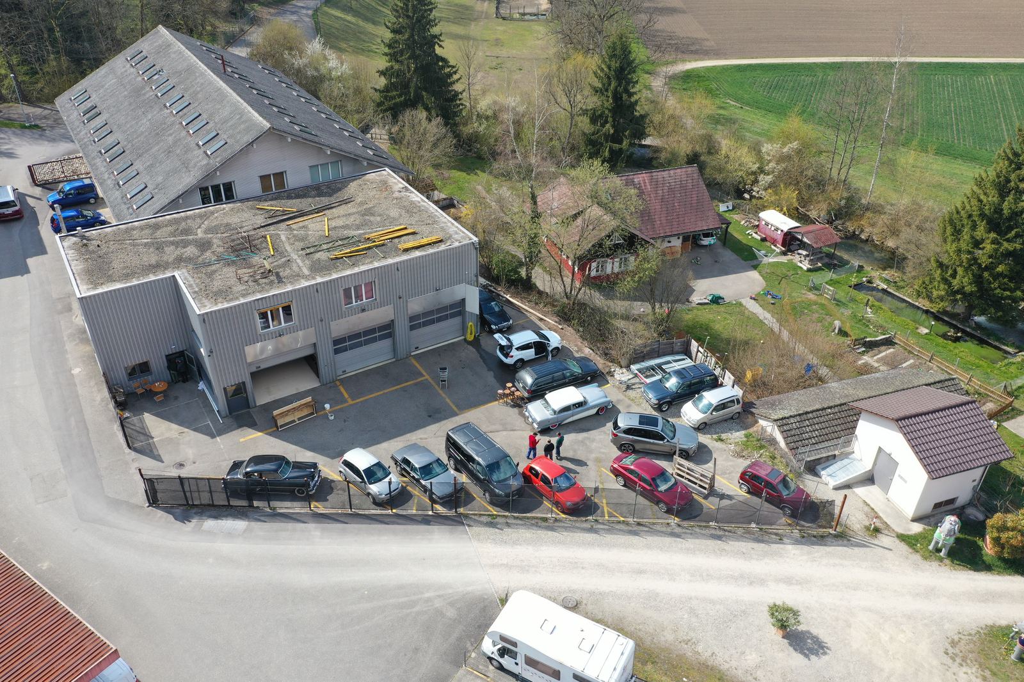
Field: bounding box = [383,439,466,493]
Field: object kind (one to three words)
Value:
car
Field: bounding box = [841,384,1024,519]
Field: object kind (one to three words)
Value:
house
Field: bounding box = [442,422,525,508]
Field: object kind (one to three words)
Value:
van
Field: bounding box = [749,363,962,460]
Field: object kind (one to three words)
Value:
shed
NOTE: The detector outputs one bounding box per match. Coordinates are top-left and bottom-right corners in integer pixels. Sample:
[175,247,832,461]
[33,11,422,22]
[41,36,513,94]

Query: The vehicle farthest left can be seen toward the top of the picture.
[0,183,31,217]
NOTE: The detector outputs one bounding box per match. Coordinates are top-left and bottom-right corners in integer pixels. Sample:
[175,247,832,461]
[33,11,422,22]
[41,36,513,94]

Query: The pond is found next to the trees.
[849,286,1024,370]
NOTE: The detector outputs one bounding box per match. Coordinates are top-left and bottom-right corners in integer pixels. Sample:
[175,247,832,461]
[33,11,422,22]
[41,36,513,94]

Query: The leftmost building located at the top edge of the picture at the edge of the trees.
[54,22,417,224]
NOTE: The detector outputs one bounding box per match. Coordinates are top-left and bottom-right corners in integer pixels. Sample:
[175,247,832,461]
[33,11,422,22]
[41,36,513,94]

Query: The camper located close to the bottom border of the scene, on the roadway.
[475,587,641,682]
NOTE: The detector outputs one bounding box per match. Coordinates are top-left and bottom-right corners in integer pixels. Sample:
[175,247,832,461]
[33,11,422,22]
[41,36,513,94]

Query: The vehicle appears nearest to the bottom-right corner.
[734,453,817,517]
